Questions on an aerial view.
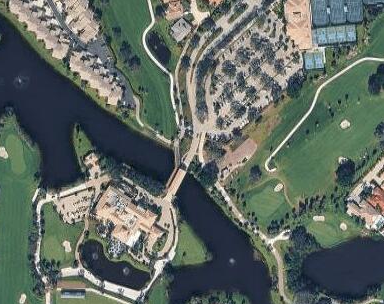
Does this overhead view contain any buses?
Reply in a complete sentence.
No, the picture doesn't show any bus.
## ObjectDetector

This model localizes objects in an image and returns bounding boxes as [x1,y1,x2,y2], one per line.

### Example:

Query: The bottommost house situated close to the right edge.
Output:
[348,201,383,229]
